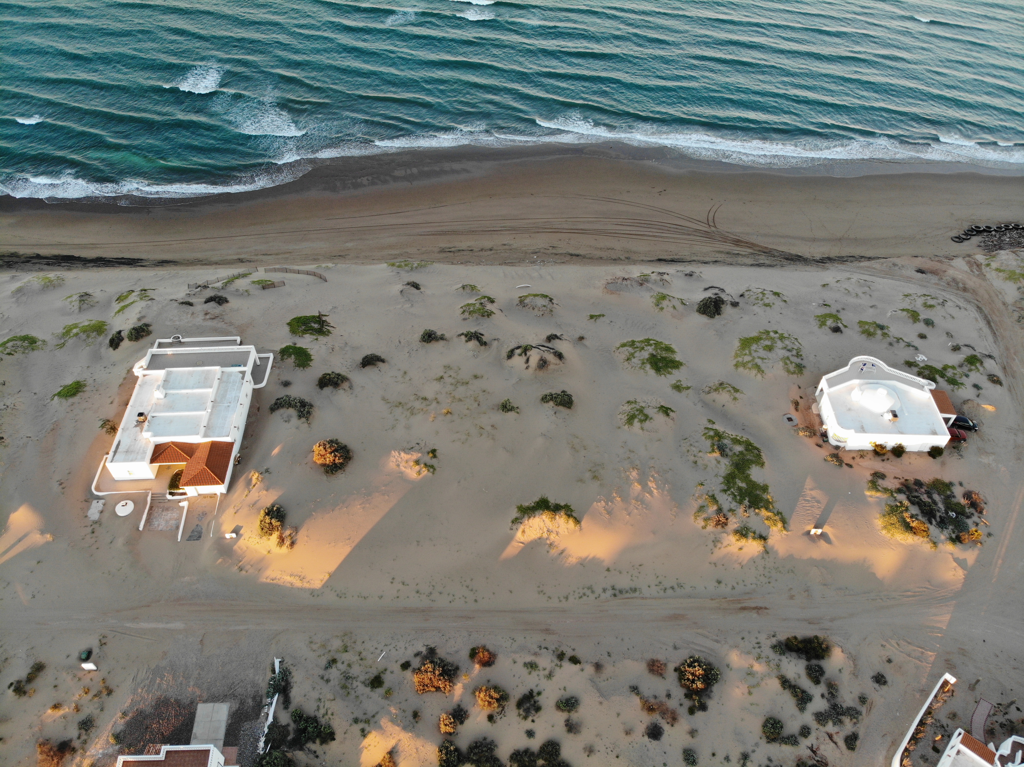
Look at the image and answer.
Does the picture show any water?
Yes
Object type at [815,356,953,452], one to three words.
house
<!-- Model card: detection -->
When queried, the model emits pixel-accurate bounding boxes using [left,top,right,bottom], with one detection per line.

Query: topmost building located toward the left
[106,345,262,500]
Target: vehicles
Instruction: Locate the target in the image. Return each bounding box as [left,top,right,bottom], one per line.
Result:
[947,426,970,445]
[949,416,981,433]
